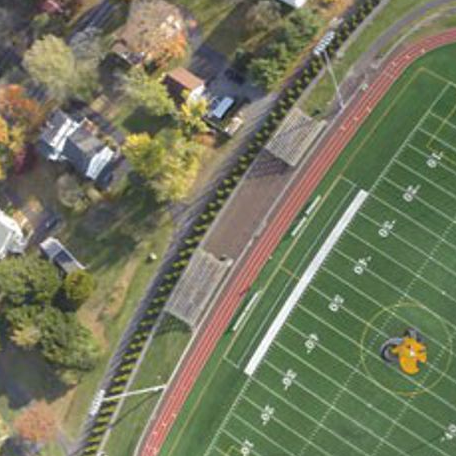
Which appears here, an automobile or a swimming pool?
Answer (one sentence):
It is an automobile that can be seen here.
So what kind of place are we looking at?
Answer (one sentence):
This looks like a sports ground.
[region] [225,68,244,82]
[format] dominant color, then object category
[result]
black car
